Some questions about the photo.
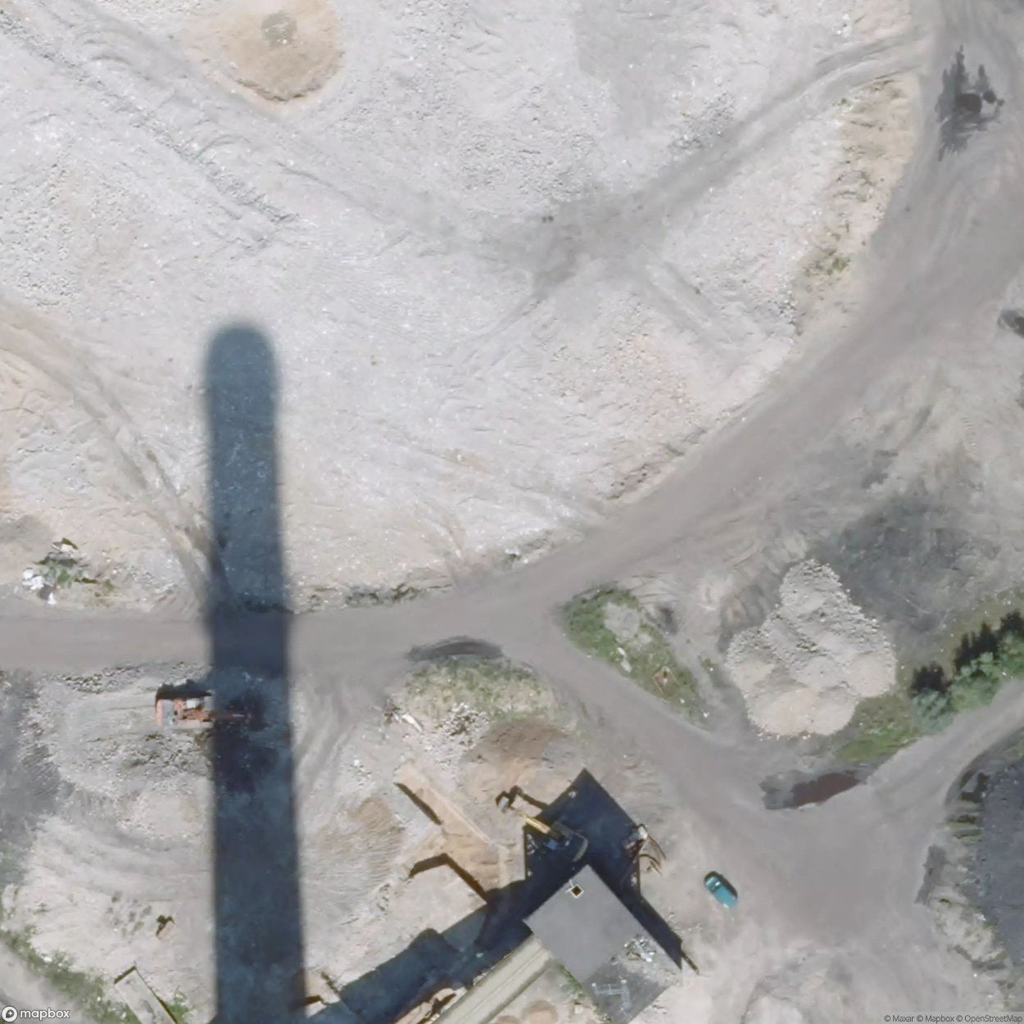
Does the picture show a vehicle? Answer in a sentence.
Yes, looking at the shot, I can spot a vehicle.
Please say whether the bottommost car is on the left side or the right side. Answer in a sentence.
It is on the right.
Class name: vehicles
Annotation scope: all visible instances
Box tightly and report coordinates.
[156,697,246,727]
[498,796,589,863]
[703,874,736,910]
